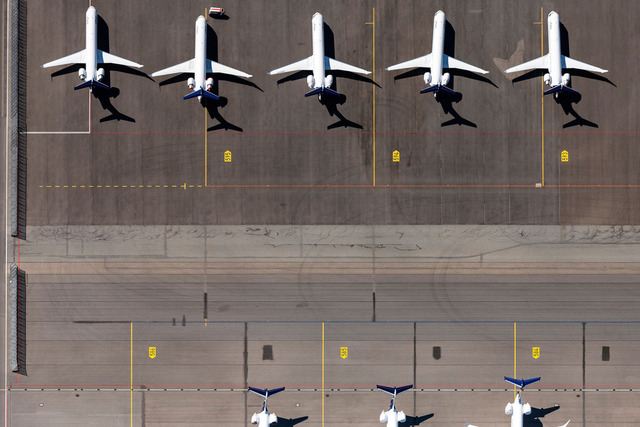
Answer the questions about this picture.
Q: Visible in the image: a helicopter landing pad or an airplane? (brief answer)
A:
airplane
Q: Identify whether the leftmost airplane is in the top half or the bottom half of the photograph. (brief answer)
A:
top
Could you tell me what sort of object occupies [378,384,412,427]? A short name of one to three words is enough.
airplane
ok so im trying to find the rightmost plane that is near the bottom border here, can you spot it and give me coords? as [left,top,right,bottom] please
[504,376,539,427]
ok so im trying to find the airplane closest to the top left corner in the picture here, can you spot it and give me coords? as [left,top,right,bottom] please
[41,6,142,93]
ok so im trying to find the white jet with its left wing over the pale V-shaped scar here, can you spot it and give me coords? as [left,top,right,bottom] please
[506,10,607,96]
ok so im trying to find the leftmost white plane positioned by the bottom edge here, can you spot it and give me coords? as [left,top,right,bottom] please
[249,386,284,427]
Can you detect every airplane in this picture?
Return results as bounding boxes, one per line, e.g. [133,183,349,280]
[378,384,412,427]
[386,10,488,96]
[41,6,142,93]
[249,386,284,427]
[506,10,607,96]
[269,12,370,98]
[149,15,251,101]
[504,376,539,427]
